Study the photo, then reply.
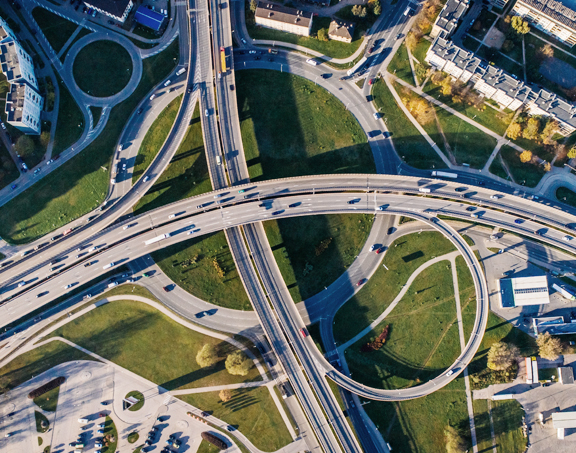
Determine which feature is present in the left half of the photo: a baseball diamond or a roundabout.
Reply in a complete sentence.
The feature located in the left half of the photo is a roundabout.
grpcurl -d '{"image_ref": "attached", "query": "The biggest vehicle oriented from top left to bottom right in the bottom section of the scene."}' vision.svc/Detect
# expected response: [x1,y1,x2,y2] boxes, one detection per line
[548,281,573,299]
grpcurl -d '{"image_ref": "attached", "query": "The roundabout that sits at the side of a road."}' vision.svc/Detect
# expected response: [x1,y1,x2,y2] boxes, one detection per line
[65,32,141,105]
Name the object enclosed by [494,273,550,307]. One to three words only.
building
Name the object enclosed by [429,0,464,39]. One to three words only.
building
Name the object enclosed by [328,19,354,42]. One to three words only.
house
